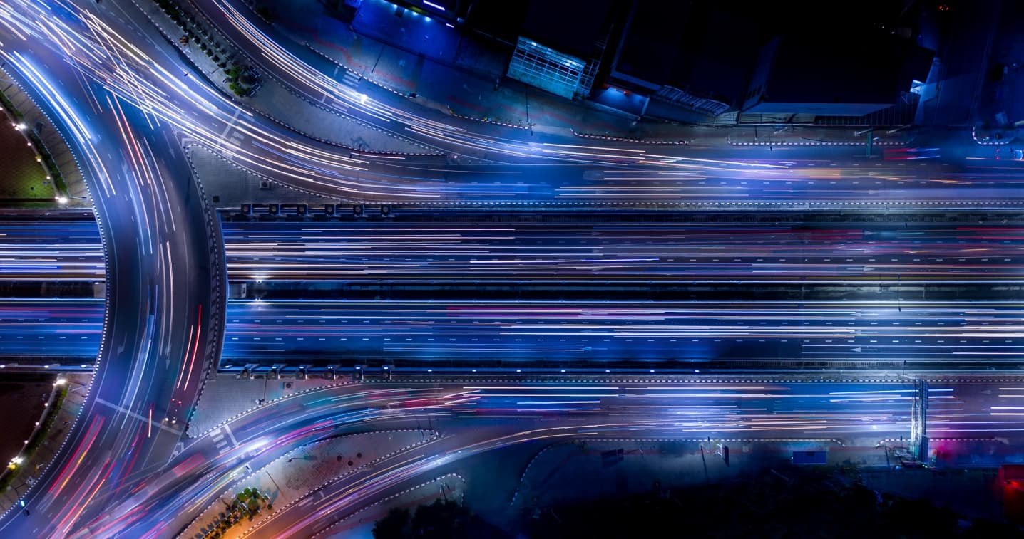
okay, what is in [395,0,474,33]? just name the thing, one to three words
building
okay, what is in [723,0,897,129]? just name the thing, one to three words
building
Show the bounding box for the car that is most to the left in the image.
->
[164,399,180,424]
